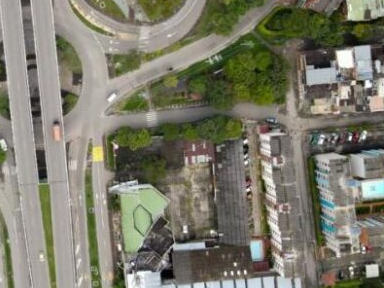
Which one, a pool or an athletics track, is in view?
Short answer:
pool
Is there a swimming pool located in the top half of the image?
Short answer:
No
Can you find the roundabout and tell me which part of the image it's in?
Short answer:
top left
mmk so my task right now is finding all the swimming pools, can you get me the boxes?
[360,178,384,200]
[251,236,273,262]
